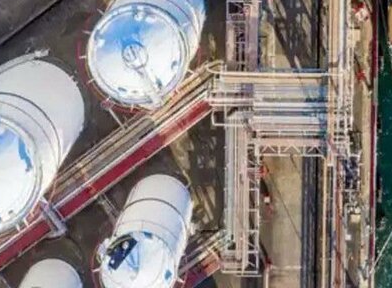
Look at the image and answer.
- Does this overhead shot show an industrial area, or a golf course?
industrial area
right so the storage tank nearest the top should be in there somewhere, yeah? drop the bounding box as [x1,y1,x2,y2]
[78,0,207,114]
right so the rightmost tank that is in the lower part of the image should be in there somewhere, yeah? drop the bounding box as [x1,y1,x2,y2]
[93,172,196,288]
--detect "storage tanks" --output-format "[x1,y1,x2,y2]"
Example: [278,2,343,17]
[19,258,86,288]
[93,172,196,288]
[0,55,85,239]
[78,0,207,114]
